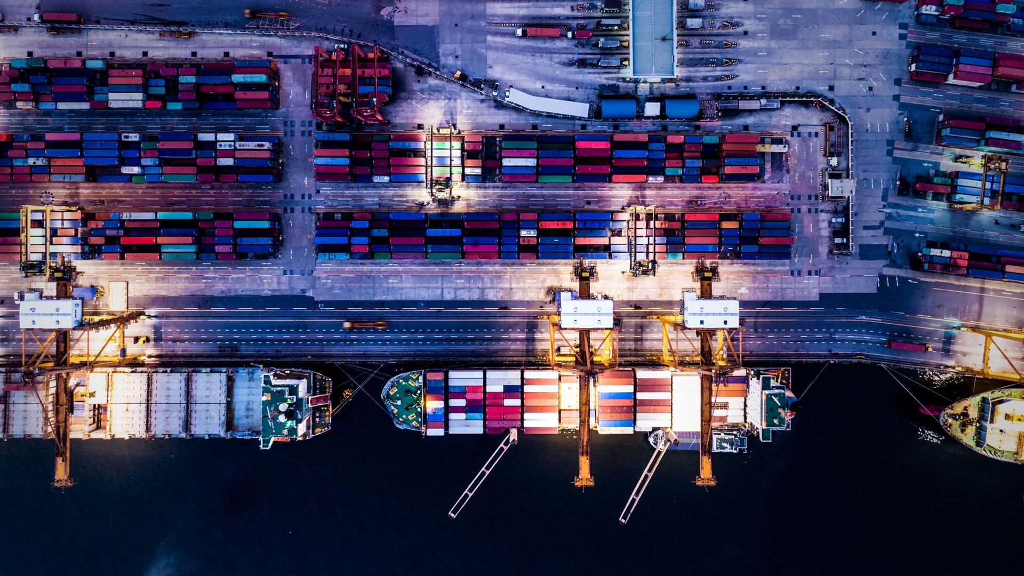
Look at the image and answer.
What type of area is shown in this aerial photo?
port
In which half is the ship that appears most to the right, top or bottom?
bottom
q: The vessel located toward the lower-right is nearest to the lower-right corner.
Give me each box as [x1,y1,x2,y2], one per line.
[918,387,1024,465]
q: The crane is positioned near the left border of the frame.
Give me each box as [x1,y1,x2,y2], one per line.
[26,252,157,495]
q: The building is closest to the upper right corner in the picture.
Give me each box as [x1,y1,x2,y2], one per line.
[826,171,854,201]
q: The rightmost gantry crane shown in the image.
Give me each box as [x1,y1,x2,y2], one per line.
[951,325,1024,391]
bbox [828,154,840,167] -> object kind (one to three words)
vehicle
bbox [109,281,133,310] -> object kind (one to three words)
shed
